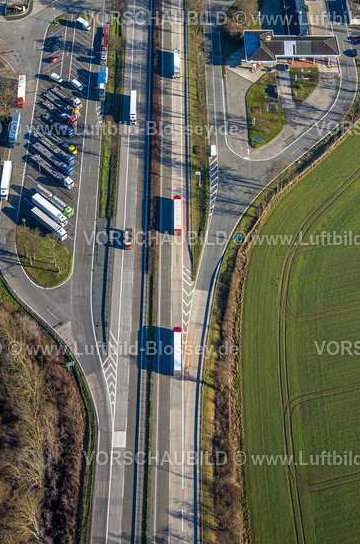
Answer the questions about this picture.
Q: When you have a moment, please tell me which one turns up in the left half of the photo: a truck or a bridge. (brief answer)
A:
truck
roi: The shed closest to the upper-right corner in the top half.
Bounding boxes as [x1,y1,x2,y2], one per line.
[346,0,360,26]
